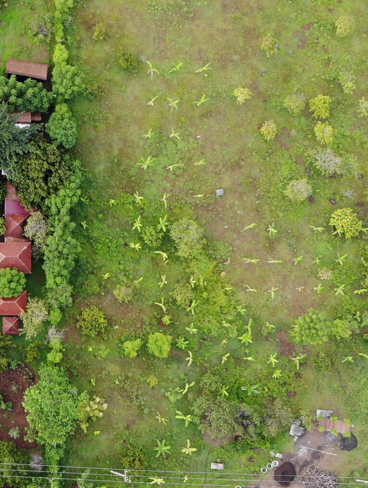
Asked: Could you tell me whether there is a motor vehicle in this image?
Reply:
No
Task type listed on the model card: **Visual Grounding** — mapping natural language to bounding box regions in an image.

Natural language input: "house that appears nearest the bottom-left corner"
[2,315,21,335]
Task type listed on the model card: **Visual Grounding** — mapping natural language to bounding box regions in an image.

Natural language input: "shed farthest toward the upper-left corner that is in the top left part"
[6,58,48,85]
